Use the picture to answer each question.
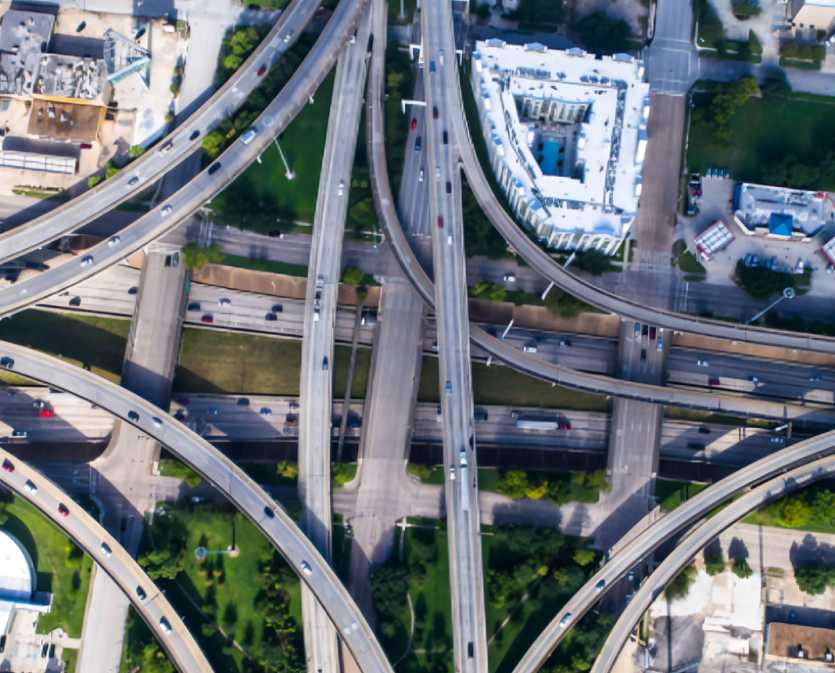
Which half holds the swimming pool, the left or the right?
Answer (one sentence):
The swimming pool appears in the right half of the scene.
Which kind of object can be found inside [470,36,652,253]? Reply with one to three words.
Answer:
building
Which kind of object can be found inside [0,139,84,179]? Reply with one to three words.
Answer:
shed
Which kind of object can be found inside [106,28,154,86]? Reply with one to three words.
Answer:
building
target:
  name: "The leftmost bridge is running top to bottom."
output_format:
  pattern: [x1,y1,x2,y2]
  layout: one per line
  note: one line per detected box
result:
[88,247,186,463]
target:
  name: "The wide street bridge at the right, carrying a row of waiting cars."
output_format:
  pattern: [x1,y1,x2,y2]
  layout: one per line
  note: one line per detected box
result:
[605,316,673,479]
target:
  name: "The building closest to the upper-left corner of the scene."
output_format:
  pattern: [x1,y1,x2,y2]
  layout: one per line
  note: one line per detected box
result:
[0,7,68,58]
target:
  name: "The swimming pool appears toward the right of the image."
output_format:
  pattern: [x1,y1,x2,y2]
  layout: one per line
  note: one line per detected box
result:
[539,137,560,176]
